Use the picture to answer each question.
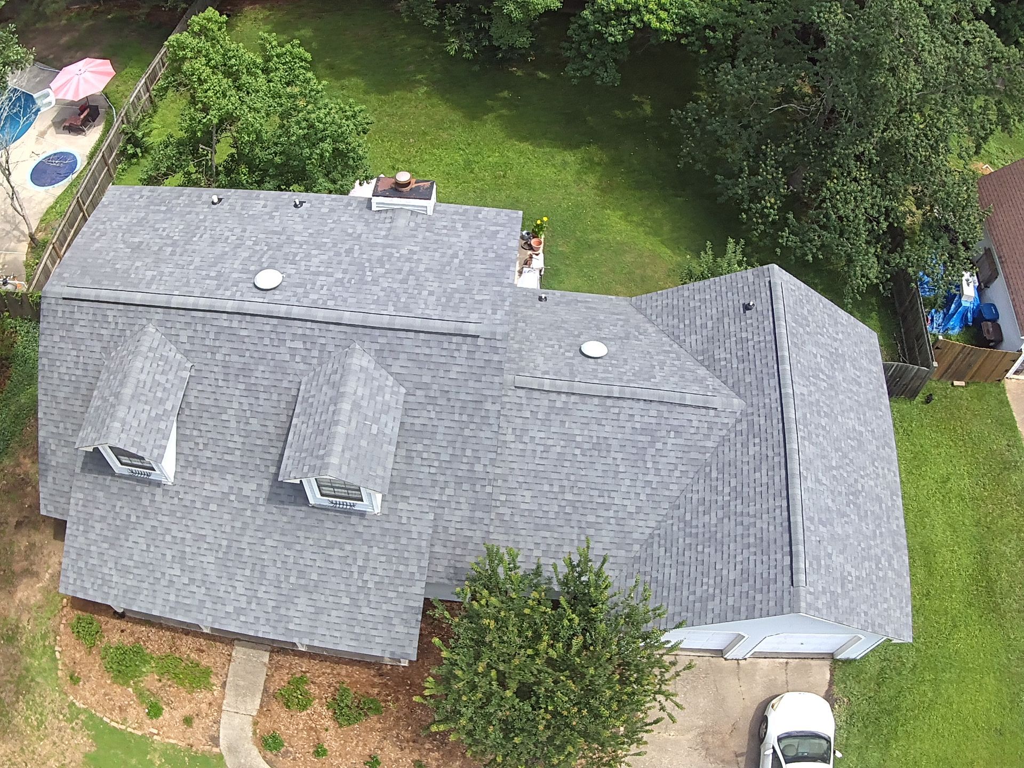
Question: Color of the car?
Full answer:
In this view, the car is white.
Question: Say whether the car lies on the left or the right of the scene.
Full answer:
It is on the right.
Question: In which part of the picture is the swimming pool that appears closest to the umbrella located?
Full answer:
You can find the swimming pool that appears closest to the umbrella in the top left area of the picture.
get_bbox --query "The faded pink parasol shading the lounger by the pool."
[50,58,116,101]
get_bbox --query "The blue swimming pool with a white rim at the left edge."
[0,83,55,150]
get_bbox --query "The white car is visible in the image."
[757,691,851,768]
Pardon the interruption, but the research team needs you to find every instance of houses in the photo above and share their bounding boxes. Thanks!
[40,173,912,667]
[969,159,1024,380]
